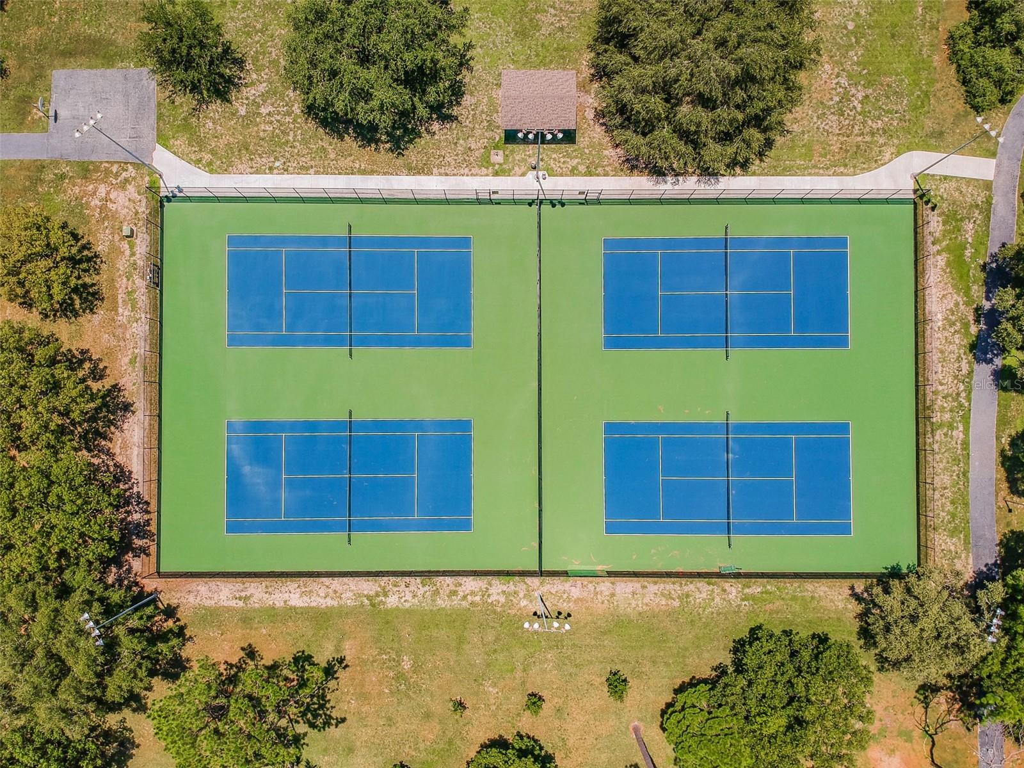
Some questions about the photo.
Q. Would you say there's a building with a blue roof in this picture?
No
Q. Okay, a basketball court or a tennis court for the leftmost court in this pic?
basketball court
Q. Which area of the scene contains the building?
top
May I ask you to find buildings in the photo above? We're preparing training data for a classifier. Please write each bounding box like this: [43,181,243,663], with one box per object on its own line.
[502,70,577,141]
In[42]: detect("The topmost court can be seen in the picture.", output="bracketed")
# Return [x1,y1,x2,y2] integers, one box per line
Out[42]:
[48,68,156,163]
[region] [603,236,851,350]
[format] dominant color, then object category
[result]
blue tennis court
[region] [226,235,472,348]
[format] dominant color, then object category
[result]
blue tennis court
